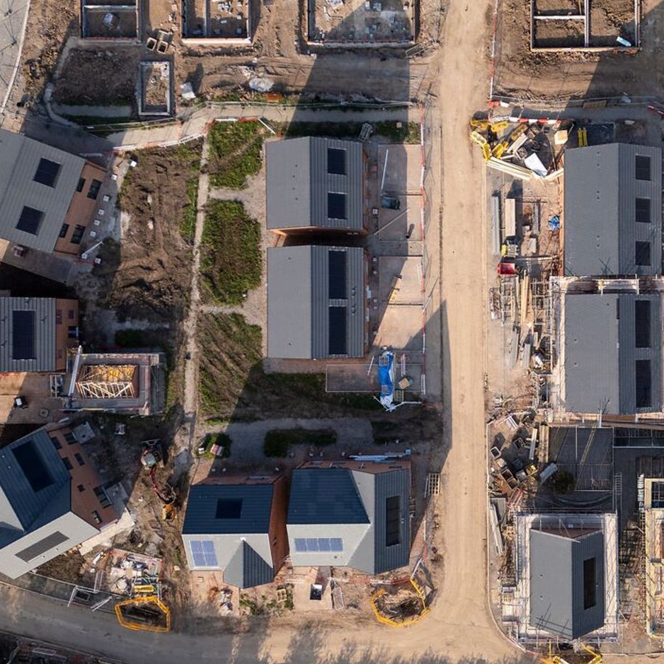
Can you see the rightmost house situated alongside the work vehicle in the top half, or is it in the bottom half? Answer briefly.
bottom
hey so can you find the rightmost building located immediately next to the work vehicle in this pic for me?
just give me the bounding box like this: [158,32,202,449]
[181,476,284,590]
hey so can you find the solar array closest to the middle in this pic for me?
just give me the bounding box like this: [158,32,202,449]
[329,307,346,353]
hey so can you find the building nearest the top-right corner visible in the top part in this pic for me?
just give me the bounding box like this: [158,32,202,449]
[559,143,662,276]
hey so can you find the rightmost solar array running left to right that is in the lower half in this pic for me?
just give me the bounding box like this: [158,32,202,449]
[294,538,343,552]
